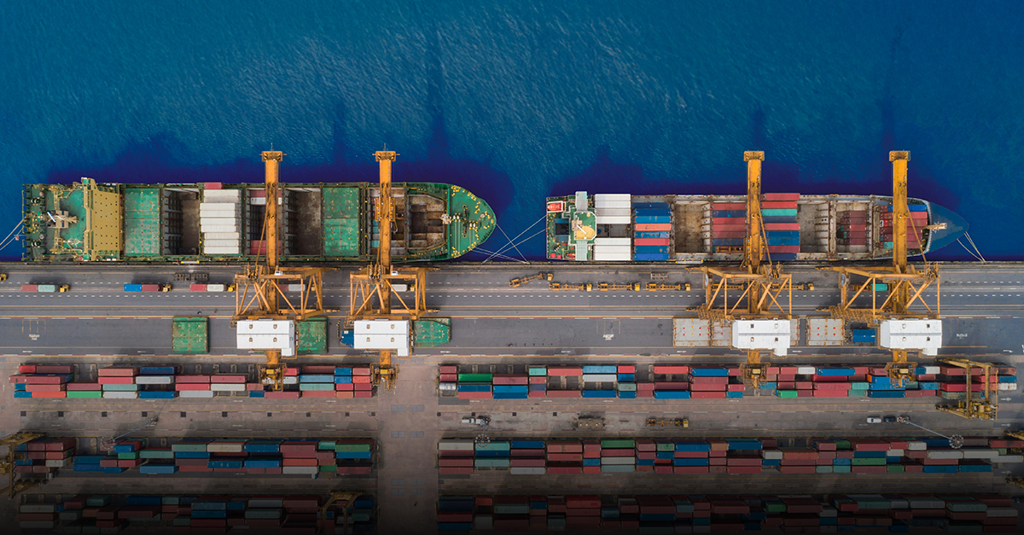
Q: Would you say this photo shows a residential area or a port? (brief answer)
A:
port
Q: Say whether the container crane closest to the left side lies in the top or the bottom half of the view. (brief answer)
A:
bottom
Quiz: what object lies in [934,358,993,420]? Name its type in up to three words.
container crane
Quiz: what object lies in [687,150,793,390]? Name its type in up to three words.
container crane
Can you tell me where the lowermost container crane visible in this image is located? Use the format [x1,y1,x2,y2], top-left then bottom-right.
[319,491,362,535]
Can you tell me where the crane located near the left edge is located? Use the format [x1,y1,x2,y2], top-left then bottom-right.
[0,433,48,500]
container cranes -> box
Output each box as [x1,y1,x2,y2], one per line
[319,491,362,535]
[227,144,339,390]
[934,358,993,420]
[0,433,48,500]
[822,150,943,390]
[341,144,445,390]
[687,150,793,390]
